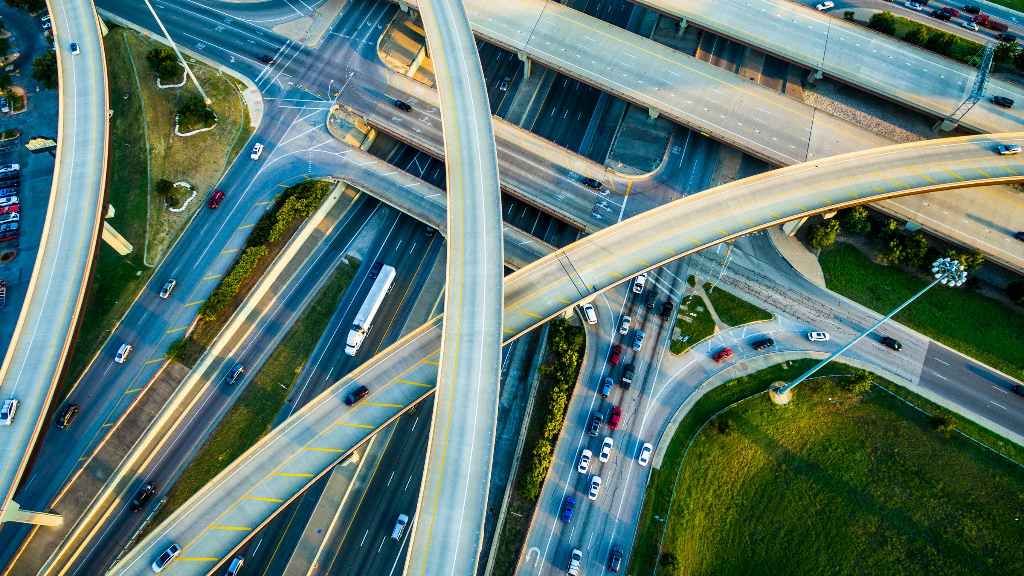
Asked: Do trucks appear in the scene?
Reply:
Yes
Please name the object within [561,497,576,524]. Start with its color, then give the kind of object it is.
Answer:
blue car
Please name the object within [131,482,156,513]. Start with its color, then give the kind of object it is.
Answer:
black truck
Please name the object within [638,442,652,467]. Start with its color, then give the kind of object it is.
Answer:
white car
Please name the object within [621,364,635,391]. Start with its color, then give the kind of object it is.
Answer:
black vehicle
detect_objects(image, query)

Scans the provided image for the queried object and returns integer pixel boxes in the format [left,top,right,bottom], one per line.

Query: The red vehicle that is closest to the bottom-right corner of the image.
[712,348,734,365]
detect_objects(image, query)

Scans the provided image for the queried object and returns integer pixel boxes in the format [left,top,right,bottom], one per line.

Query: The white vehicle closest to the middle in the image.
[584,305,596,324]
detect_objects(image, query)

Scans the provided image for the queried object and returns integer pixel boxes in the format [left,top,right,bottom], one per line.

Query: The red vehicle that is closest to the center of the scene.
[609,345,622,367]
